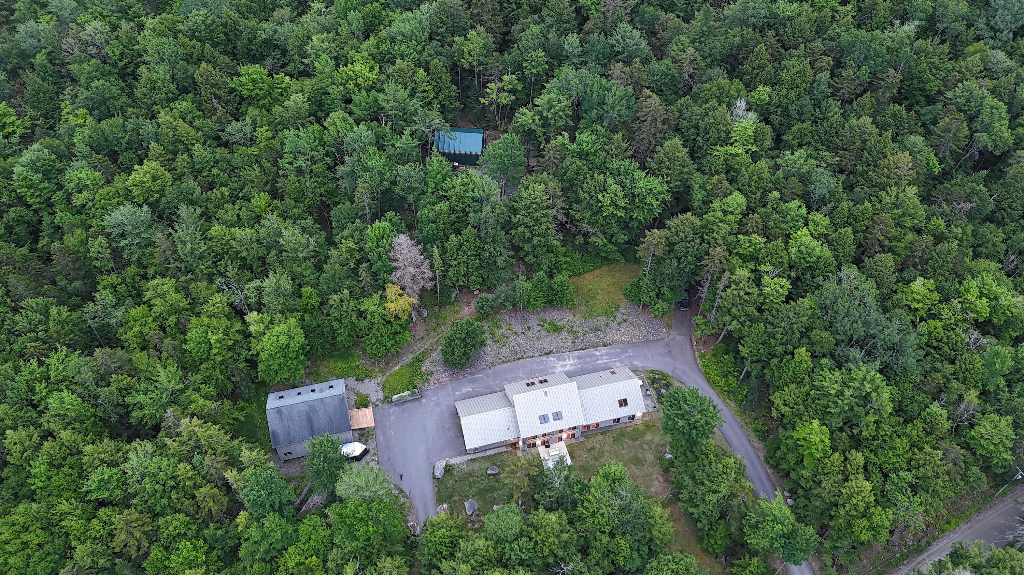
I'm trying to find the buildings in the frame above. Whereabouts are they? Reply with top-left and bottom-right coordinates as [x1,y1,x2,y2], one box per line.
[455,366,645,455]
[431,127,486,164]
[266,379,353,461]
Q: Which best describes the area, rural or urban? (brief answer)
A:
rural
